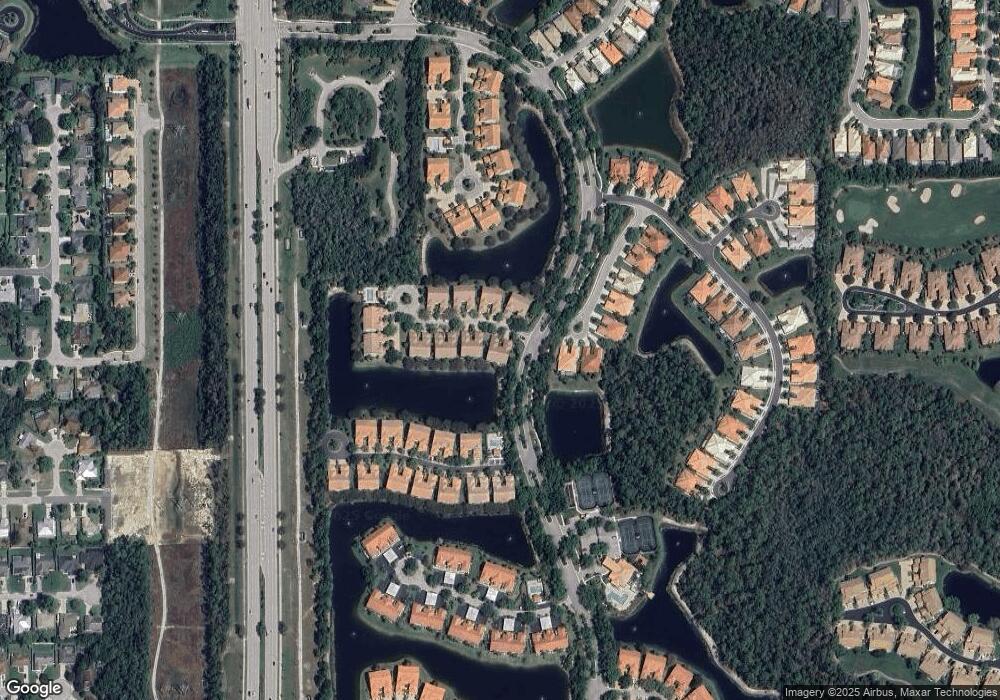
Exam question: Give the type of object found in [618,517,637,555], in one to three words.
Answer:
tennis court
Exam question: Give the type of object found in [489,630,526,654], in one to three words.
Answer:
building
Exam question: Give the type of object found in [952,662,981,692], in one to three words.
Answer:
house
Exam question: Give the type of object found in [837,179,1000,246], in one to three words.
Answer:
golf course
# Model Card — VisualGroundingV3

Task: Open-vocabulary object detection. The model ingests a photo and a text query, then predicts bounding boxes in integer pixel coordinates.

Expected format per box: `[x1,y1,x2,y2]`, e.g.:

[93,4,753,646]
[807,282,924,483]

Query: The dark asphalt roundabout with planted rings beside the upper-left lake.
[0,4,25,33]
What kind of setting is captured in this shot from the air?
residential area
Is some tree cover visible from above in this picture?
Yes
